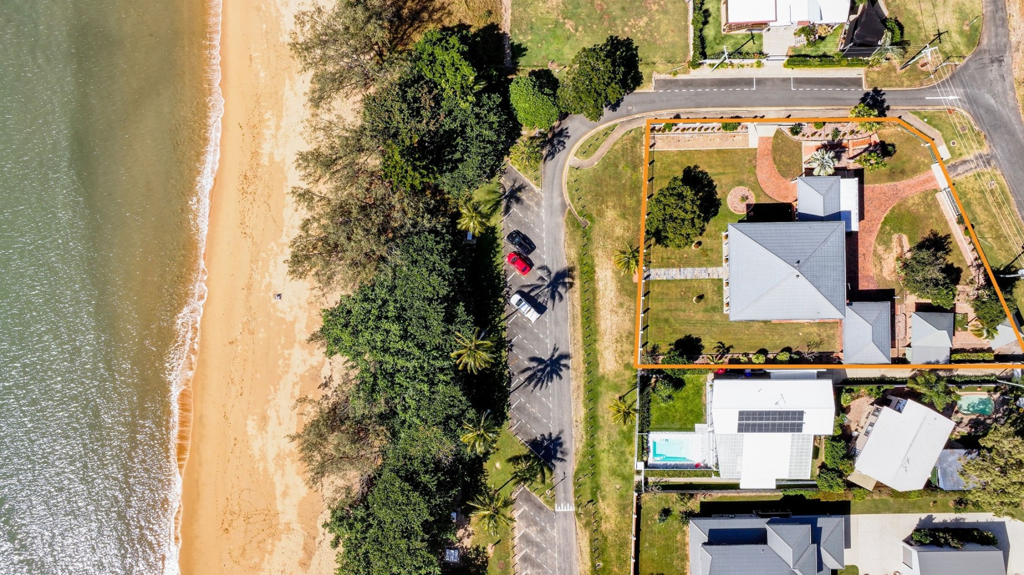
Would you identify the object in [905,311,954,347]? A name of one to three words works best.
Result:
shed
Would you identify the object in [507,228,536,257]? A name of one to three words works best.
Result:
car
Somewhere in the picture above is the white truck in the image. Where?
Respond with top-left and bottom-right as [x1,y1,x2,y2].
[510,292,543,324]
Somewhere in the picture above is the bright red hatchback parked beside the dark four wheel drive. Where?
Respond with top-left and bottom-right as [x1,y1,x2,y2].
[505,251,532,276]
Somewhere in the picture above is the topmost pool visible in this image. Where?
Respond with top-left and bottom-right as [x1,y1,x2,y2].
[950,387,1002,423]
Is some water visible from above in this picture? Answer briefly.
Yes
